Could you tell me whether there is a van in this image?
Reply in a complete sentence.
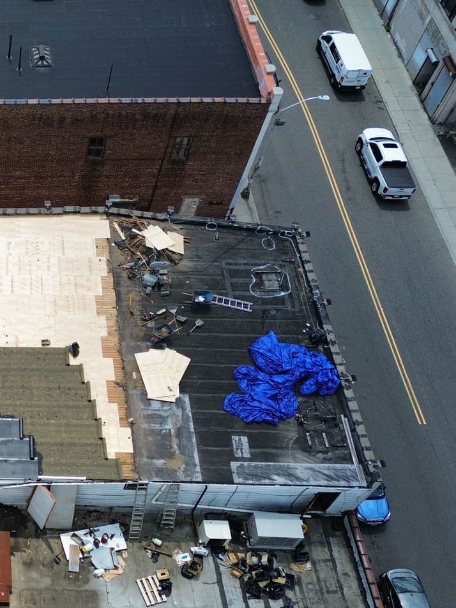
Yes, there's a van here.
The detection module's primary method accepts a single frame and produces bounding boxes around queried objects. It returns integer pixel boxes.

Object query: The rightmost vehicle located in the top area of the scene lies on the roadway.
[353,129,421,199]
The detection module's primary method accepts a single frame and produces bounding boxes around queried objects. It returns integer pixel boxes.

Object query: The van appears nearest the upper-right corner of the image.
[314,36,375,92]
